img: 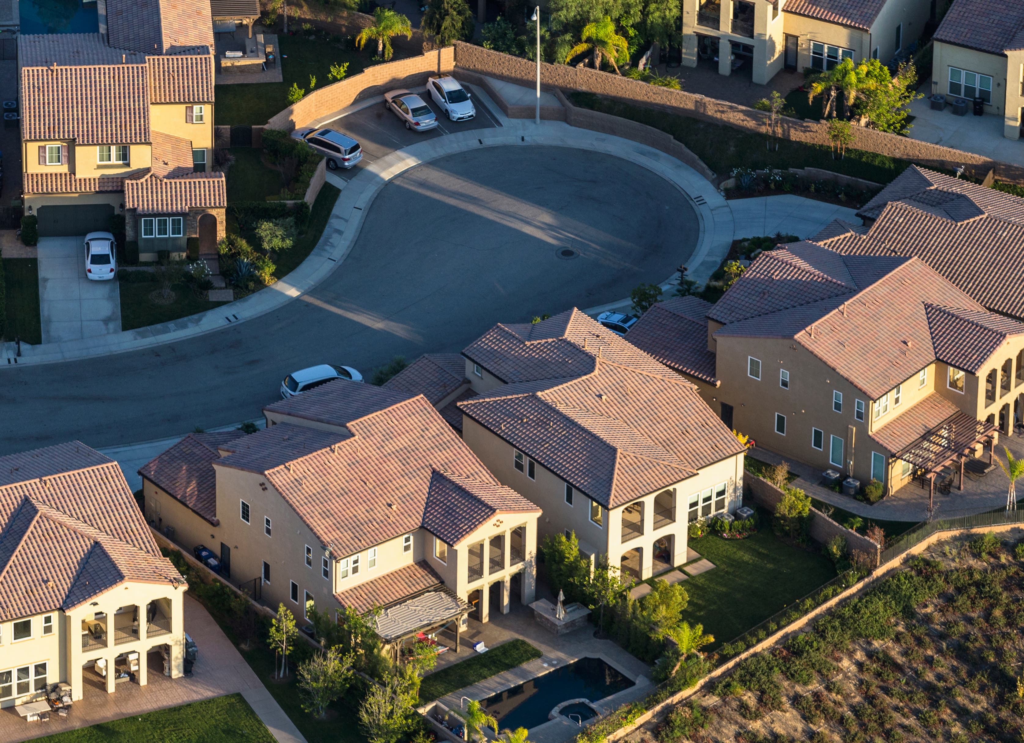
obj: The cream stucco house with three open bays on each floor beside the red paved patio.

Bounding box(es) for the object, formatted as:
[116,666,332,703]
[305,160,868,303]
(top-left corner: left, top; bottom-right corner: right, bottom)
[0,438,191,709]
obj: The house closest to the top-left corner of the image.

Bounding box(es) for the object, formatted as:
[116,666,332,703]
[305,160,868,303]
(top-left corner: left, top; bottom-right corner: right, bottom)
[20,0,228,261]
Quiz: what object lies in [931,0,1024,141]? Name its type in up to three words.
house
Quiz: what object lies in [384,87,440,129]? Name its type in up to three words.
car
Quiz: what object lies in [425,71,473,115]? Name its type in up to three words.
car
